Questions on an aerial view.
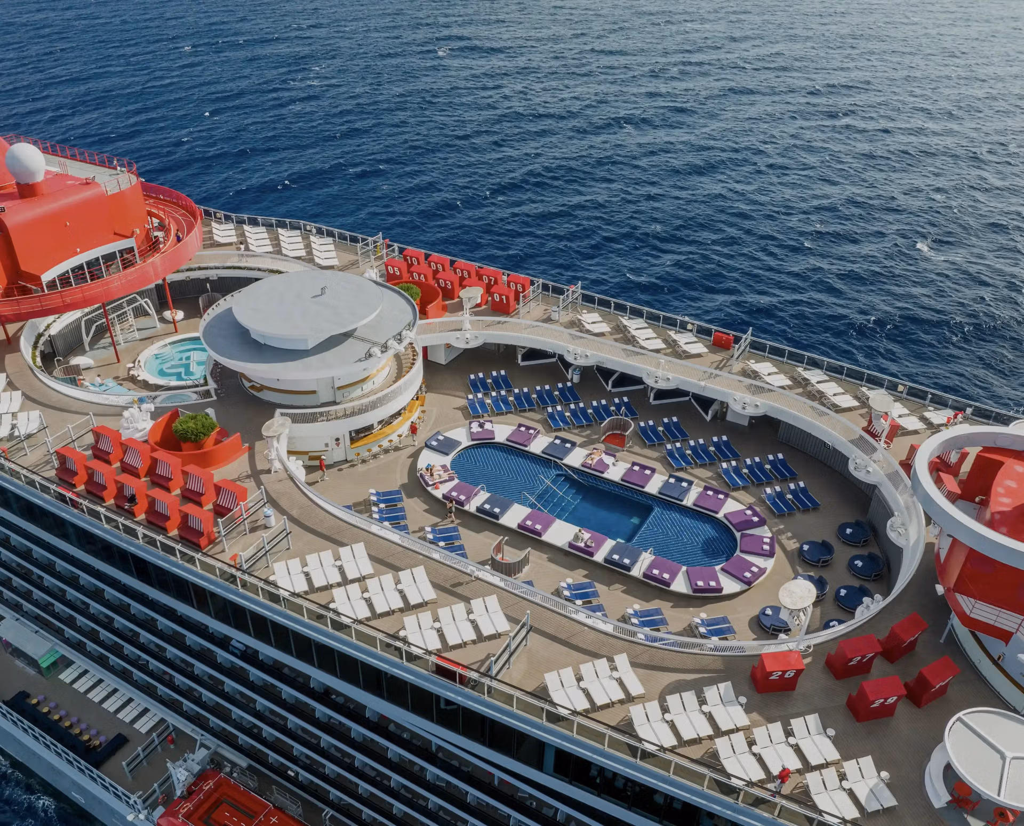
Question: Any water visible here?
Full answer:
Yes, some water is visible.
